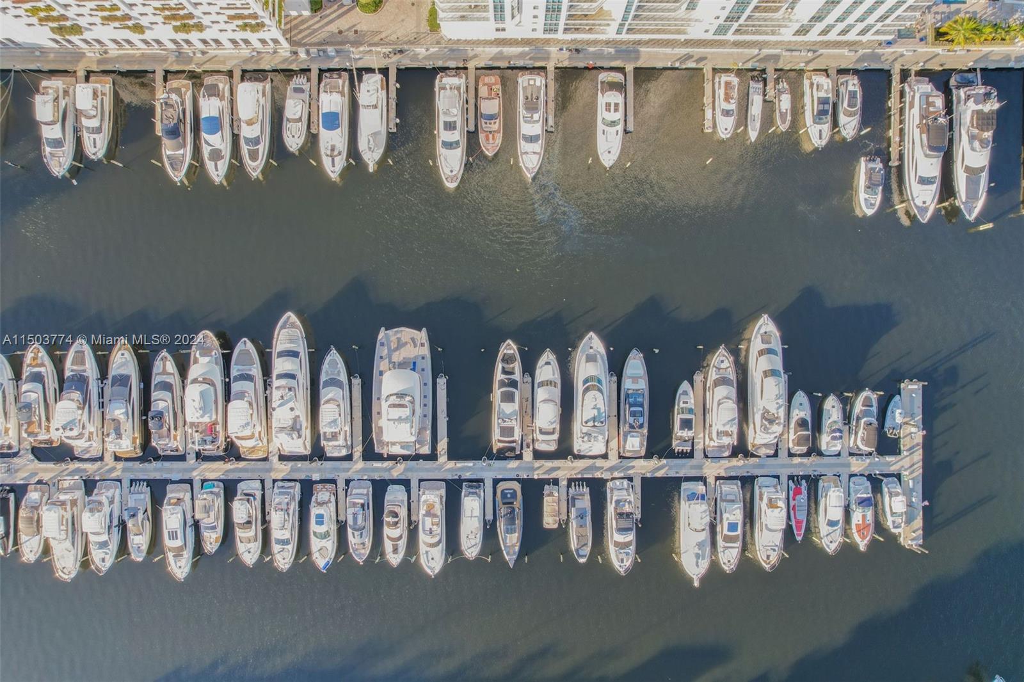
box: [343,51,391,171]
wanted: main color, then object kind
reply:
white boat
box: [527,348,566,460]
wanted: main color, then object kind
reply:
white boat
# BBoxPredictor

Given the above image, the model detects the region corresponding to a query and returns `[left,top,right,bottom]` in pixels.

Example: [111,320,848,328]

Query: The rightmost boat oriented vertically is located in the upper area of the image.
[946,67,999,223]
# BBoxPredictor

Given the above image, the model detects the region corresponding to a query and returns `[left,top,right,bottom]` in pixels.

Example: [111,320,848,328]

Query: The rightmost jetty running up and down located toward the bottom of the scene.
[899,382,923,544]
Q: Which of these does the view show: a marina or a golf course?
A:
marina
